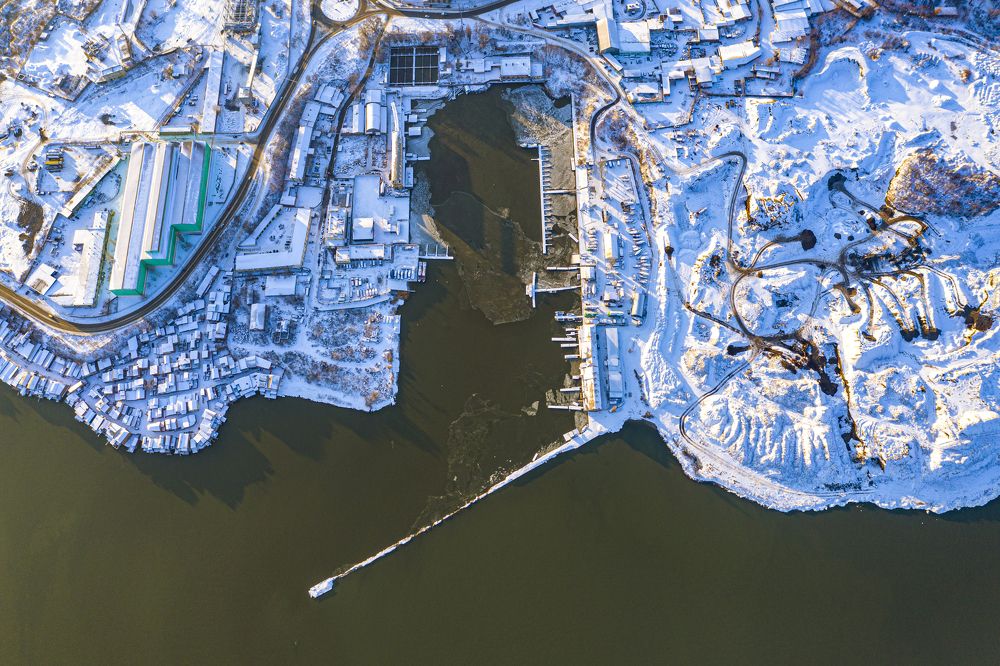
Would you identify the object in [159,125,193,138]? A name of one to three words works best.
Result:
building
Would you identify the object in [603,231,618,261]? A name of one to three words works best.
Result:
shed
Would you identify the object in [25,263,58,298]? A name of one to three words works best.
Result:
house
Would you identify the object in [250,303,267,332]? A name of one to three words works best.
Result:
barn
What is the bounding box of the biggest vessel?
[390,102,402,190]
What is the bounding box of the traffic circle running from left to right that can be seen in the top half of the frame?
[311,0,368,27]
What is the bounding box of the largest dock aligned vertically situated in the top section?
[540,146,556,254]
